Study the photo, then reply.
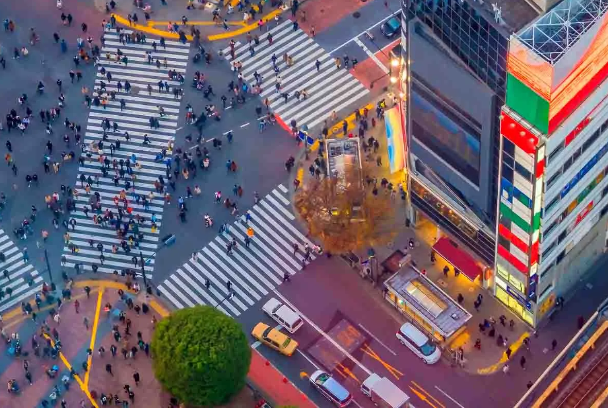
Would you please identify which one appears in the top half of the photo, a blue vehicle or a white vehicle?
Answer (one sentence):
You can see a blue vehicle in the top half of the photo.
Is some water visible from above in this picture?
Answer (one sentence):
No, there is no water in the image.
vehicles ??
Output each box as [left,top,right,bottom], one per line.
[358,366,413,408]
[372,11,405,43]
[252,321,298,360]
[308,371,352,408]
[395,321,439,364]
[261,298,305,337]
